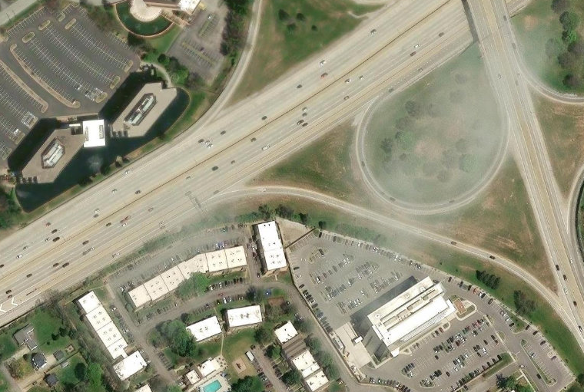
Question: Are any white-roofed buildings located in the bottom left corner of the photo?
Yes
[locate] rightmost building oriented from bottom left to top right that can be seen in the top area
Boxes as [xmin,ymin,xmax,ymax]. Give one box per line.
[106,83,176,141]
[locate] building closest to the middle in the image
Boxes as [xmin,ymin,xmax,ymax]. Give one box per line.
[255,221,287,271]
